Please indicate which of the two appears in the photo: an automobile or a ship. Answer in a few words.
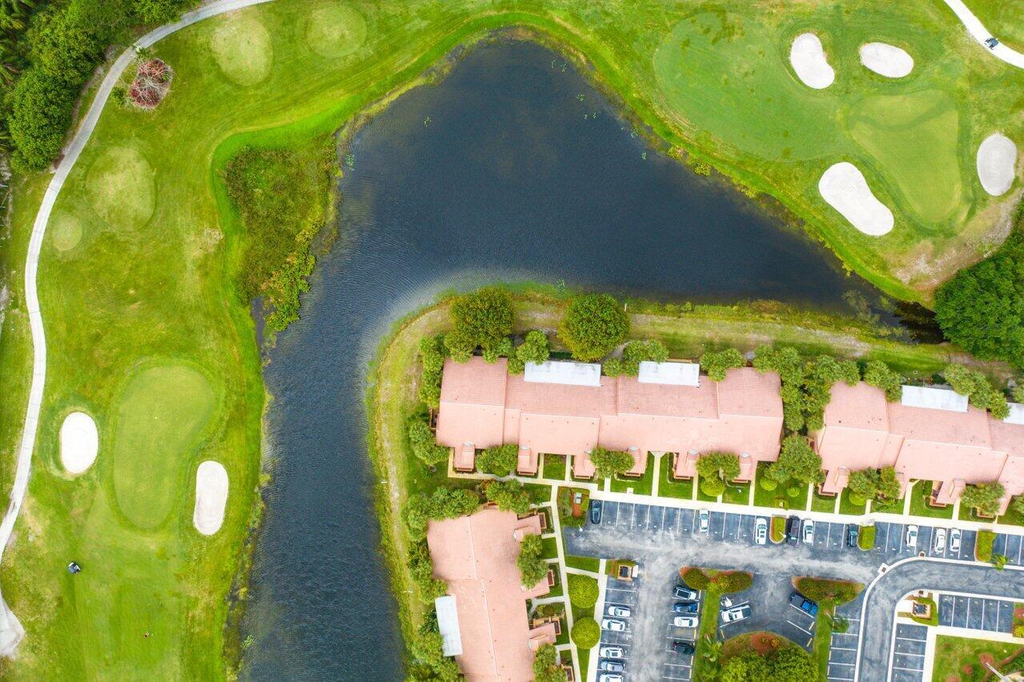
automobile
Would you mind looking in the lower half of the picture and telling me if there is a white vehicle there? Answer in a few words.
Yes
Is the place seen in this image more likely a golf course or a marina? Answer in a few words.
golf course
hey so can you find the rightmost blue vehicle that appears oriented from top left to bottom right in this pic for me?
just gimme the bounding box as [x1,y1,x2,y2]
[789,592,819,616]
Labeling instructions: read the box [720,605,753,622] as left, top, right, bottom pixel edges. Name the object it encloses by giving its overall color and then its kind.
white car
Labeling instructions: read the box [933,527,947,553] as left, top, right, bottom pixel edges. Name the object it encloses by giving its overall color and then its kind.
white car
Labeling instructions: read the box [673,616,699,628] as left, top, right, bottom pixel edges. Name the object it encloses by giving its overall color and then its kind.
white vehicle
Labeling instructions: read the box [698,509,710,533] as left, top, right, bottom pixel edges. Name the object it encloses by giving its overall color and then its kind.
white vehicle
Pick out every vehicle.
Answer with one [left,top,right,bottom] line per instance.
[722,599,734,607]
[754,518,767,545]
[673,585,699,601]
[846,524,859,548]
[720,605,753,622]
[673,601,698,614]
[698,509,710,533]
[801,519,814,545]
[599,646,624,659]
[608,605,631,618]
[986,35,1004,47]
[671,642,696,655]
[673,616,699,628]
[600,660,625,673]
[904,525,918,548]
[789,592,819,616]
[601,618,626,631]
[933,527,947,553]
[786,517,800,546]
[948,528,962,553]
[599,673,624,682]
